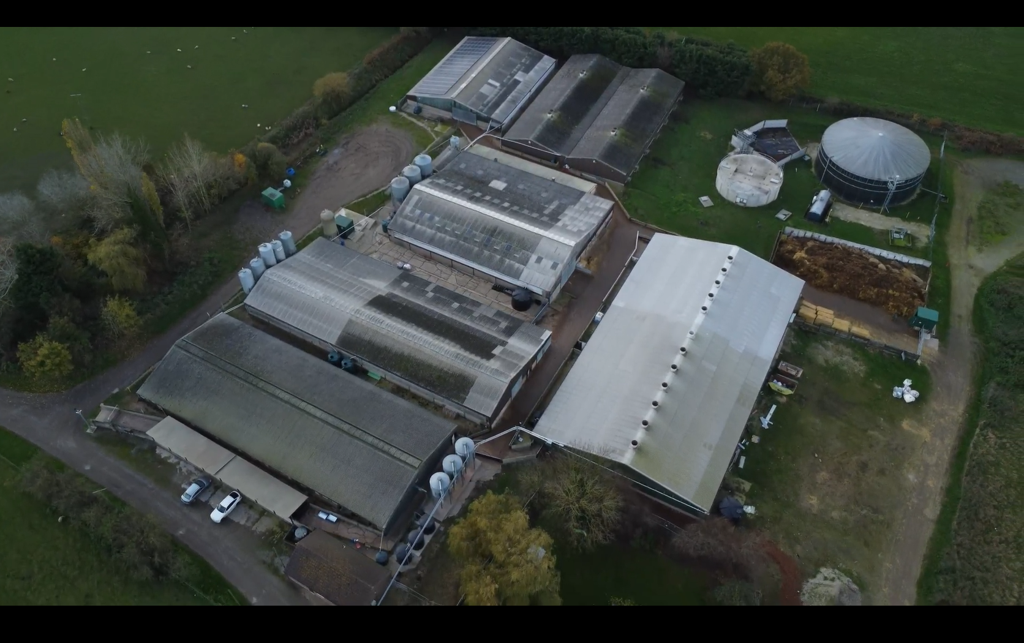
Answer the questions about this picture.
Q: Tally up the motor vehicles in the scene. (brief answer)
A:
2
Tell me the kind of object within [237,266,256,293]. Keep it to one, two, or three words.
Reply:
silo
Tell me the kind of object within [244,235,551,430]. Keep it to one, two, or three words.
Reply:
barn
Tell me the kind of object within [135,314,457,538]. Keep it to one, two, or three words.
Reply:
barn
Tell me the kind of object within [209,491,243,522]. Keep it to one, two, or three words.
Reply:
car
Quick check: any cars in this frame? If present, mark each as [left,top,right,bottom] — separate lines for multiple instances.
[209,491,243,522]
[178,476,213,504]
